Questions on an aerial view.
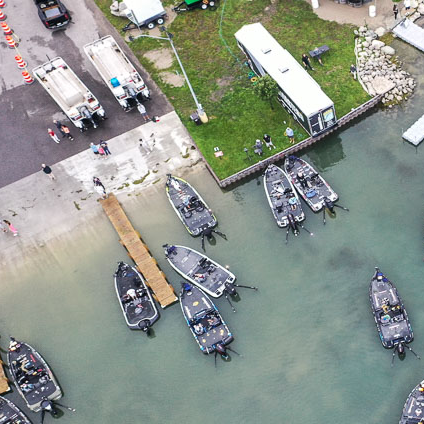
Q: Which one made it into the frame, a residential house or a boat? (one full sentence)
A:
Visible in the photo is a boat.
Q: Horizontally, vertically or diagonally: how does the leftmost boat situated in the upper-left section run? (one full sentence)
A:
The leftmost boat situated in the upper-left section is oriented diagonally.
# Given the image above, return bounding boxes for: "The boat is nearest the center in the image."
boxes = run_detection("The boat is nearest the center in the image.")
[162,171,230,251]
